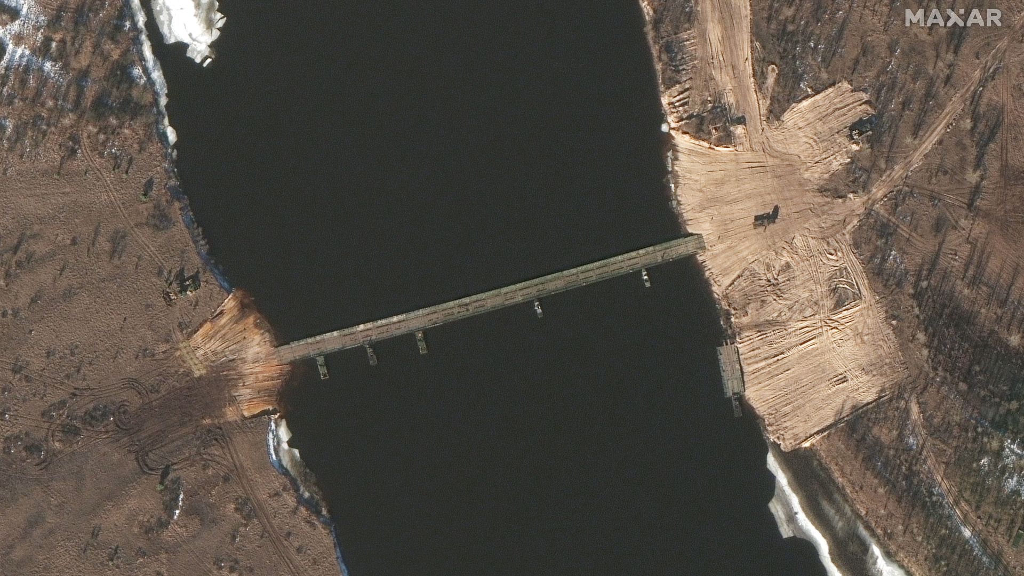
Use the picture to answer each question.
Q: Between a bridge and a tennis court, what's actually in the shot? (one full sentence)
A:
Visible in the photo is a bridge.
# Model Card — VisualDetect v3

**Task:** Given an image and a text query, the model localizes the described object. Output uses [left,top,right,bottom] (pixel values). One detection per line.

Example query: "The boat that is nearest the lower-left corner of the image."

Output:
[316,356,328,380]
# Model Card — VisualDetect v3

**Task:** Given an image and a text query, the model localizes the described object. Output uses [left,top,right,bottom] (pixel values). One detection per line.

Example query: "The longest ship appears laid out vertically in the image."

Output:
[717,340,745,397]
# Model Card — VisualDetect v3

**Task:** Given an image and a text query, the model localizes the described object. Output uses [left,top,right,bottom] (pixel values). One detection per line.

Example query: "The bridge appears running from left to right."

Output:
[276,234,709,364]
